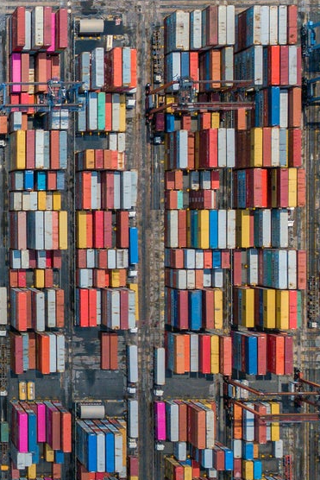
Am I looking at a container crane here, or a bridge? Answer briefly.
container crane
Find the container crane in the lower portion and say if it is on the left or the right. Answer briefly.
right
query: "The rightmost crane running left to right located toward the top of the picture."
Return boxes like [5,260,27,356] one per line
[146,79,252,119]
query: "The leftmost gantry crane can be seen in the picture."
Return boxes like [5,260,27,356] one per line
[0,80,82,111]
